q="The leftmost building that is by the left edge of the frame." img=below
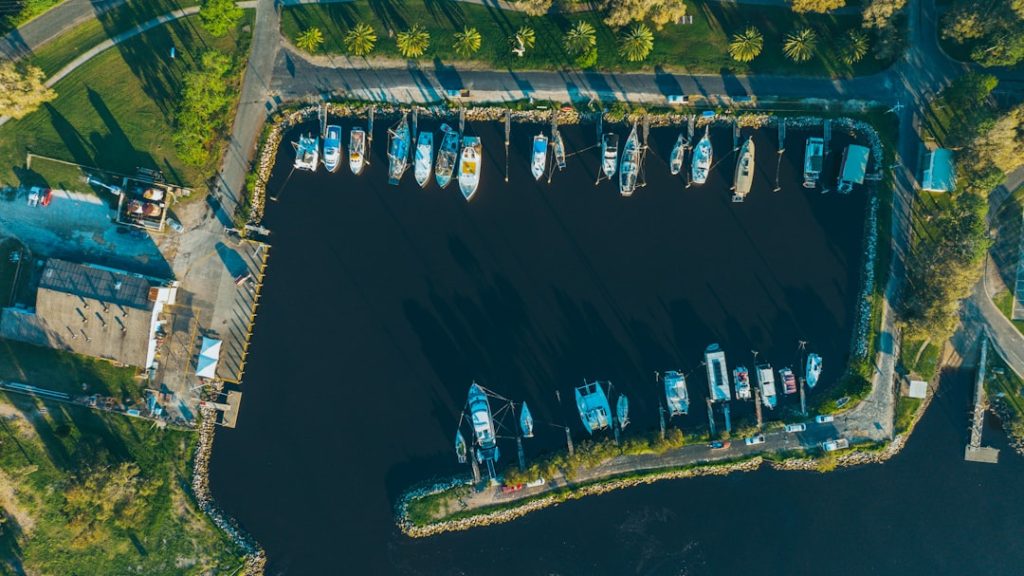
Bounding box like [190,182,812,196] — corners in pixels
[0,258,187,369]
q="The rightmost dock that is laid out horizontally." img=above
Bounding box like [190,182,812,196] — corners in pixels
[963,446,1004,464]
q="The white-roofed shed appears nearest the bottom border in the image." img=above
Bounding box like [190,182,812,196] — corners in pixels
[903,380,926,399]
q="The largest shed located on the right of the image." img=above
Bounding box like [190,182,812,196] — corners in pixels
[916,149,962,193]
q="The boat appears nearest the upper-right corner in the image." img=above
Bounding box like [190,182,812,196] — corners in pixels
[841,144,872,186]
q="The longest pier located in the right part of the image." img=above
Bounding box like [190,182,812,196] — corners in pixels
[967,334,989,448]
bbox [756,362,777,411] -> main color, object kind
white boat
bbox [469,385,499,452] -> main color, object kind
blue boat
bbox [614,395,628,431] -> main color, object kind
blue boat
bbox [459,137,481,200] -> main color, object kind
white boat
